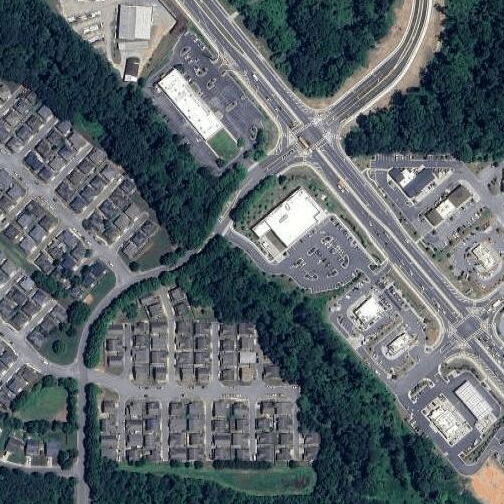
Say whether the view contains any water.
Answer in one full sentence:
No, the picture contains no water.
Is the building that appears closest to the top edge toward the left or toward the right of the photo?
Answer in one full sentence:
The building that appears closest to the top edge appears in the left half of the scene.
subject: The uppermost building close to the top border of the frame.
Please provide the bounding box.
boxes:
[117,6,151,39]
